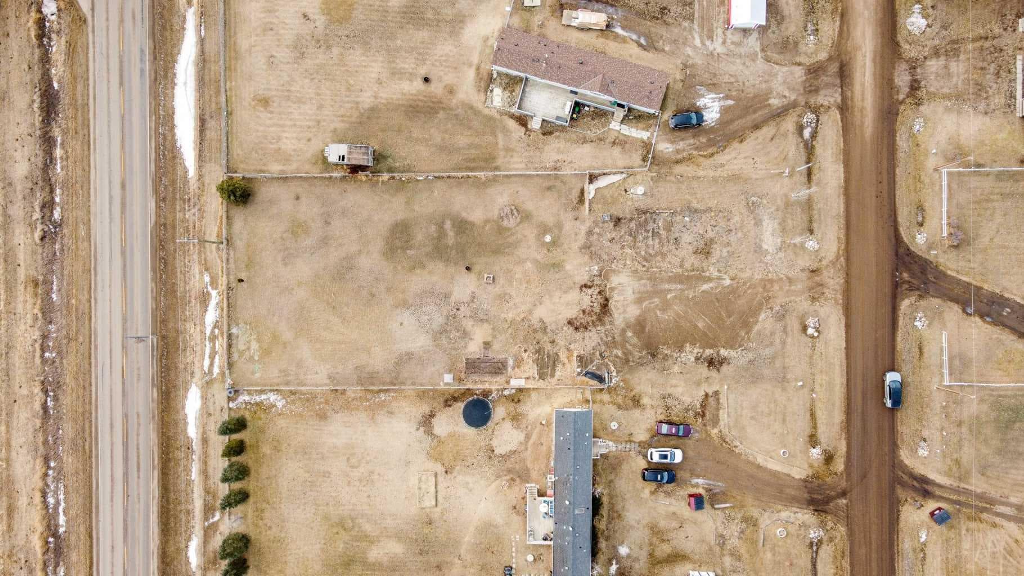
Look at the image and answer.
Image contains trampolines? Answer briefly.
Yes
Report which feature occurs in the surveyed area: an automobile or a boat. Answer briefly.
automobile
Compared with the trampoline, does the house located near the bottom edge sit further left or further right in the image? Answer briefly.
on its right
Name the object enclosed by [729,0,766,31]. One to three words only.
shed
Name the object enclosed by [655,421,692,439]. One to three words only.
car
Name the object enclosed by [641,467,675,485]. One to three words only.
car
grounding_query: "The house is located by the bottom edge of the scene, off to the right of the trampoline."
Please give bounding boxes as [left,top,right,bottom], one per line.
[552,406,593,576]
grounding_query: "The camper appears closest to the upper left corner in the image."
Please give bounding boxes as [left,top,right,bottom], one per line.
[324,144,376,167]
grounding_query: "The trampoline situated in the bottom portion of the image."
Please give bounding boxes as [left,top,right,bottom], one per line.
[462,396,493,428]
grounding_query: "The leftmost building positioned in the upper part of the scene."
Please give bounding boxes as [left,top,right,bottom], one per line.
[492,28,669,117]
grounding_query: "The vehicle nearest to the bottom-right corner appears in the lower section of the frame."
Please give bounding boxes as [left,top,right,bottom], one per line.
[882,371,902,408]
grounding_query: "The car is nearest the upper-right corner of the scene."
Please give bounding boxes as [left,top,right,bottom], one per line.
[668,110,704,129]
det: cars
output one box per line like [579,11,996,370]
[655,421,692,439]
[668,110,704,129]
[647,447,682,464]
[641,467,675,485]
[882,371,902,408]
